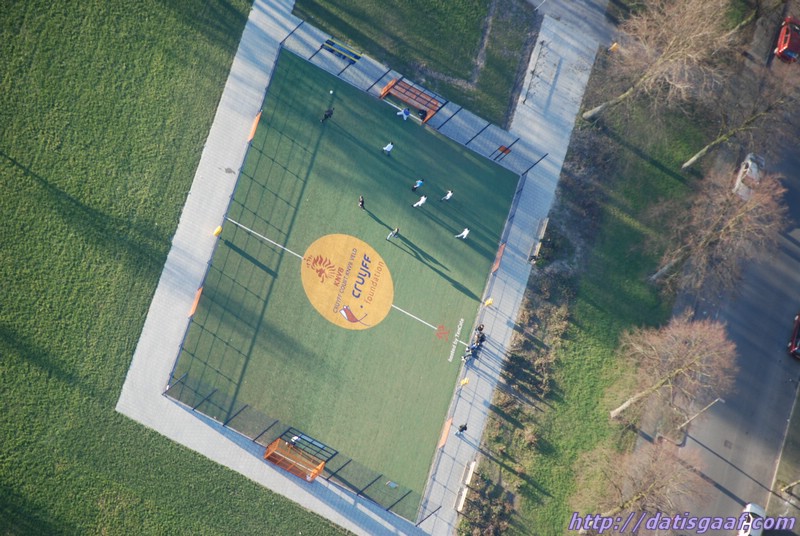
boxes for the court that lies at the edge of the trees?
[163,44,522,526]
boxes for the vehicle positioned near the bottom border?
[738,503,765,536]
